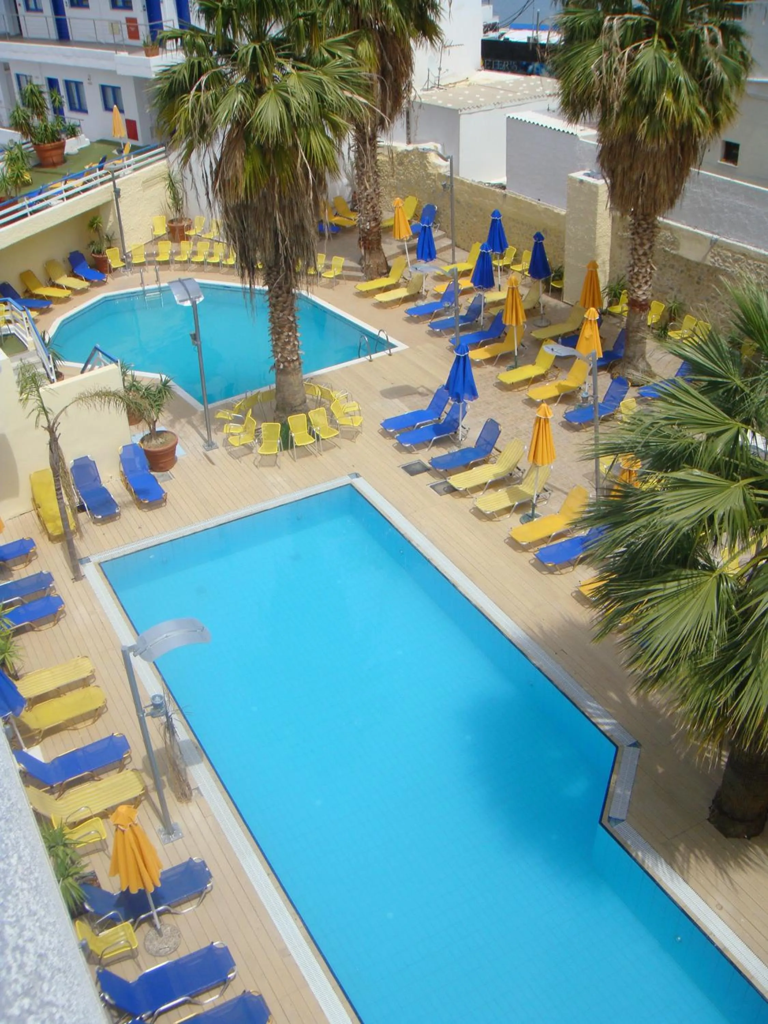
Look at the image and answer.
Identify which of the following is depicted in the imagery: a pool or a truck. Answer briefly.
pool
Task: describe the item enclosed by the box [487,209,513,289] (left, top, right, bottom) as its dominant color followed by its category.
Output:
blue umbrella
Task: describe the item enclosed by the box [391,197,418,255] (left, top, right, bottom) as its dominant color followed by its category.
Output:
orange umbrella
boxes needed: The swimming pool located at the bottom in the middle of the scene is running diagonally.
[102,487,768,1024]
